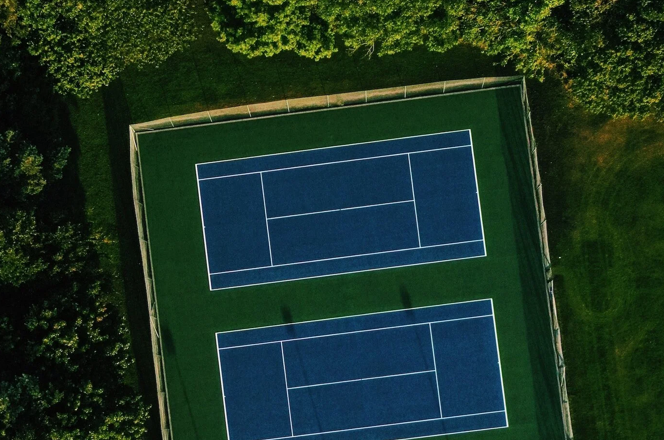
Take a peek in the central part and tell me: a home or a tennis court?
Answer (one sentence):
The one visible in the central part is a tennis court.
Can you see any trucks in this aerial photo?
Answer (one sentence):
No, there's no truck here.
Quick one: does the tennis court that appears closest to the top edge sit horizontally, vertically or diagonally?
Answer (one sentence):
What the image shows is the tennis court that appears closest to the top edge lying horizontally.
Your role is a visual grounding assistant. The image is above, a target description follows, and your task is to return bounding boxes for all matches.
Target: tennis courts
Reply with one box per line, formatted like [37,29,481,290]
[215,298,509,440]
[195,129,487,291]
